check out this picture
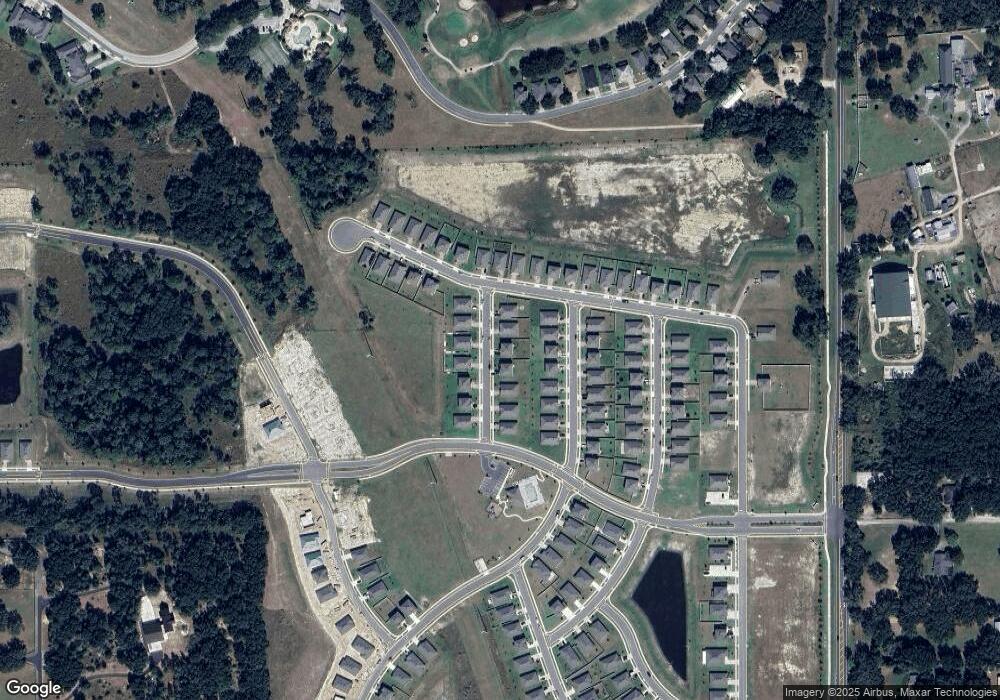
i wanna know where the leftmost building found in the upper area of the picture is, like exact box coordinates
[9,0,50,40]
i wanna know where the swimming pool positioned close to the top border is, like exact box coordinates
[286,18,321,59]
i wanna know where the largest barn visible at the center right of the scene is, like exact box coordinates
[874,272,912,319]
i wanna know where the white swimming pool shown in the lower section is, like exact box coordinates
[520,476,545,509]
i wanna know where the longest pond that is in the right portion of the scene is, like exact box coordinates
[633,550,687,679]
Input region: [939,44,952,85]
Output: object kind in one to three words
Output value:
building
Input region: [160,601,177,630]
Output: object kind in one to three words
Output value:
house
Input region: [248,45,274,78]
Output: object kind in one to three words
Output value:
tennis court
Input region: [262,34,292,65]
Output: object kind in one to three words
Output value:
tennis court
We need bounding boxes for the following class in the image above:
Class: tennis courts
[248,45,274,78]
[262,34,292,65]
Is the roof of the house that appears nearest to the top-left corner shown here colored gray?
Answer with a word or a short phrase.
Yes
